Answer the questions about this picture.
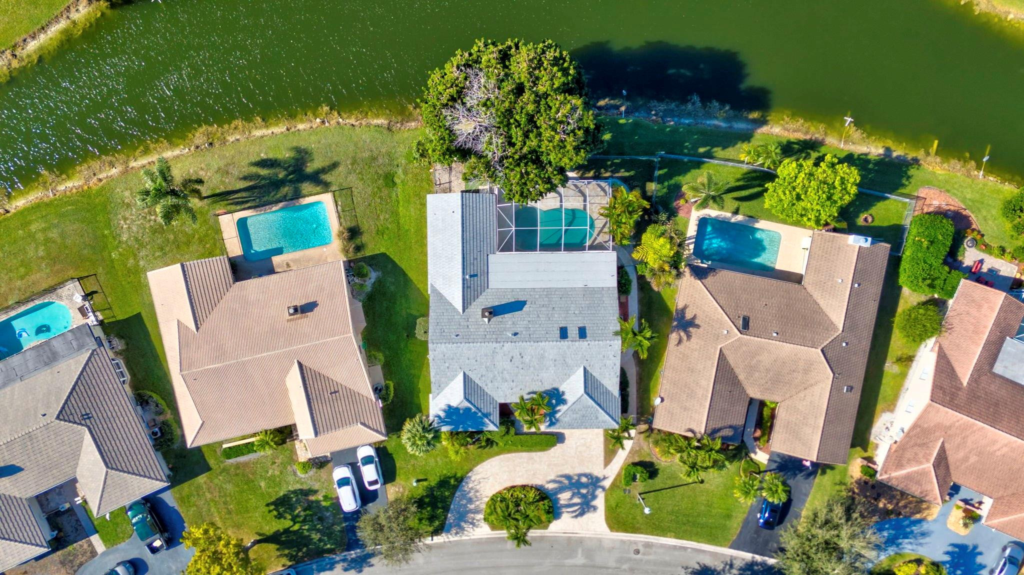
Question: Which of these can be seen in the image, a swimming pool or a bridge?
swimming pool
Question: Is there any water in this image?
Yes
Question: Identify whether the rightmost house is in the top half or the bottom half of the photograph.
bottom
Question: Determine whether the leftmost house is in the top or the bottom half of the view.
bottom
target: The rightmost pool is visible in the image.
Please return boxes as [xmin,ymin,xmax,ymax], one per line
[691,213,785,275]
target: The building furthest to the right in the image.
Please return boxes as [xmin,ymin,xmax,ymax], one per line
[870,279,1024,541]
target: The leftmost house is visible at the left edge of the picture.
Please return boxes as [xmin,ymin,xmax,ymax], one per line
[0,322,176,572]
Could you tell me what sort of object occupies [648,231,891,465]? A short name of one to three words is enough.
house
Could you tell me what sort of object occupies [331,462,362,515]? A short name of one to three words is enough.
car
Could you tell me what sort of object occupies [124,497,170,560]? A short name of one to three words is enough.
truck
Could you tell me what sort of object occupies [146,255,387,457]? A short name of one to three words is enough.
house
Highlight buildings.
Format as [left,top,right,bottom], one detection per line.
[648,231,891,465]
[146,255,387,457]
[0,322,176,572]
[870,279,1024,541]
[426,192,622,432]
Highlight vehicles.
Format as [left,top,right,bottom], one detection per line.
[354,443,384,494]
[331,462,362,515]
[756,479,789,532]
[124,497,170,560]
[989,539,1024,575]
[99,561,140,575]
